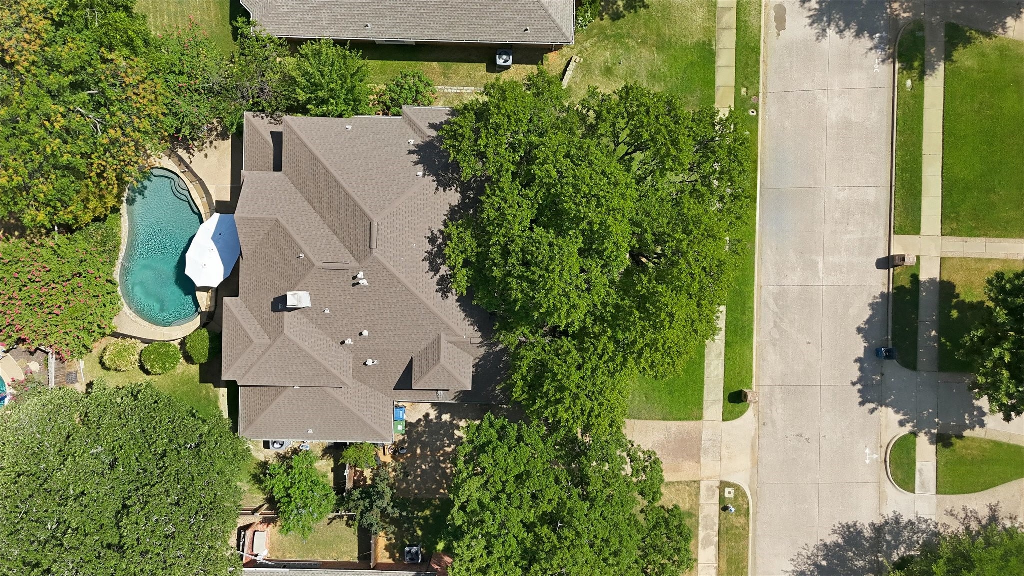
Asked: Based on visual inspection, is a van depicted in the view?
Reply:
No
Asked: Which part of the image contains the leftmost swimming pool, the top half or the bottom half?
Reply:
bottom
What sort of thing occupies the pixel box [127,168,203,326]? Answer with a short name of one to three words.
swimming pool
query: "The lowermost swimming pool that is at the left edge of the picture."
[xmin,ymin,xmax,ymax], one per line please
[0,351,23,414]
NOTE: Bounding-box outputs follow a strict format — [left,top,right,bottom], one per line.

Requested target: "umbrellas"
[185,213,239,288]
